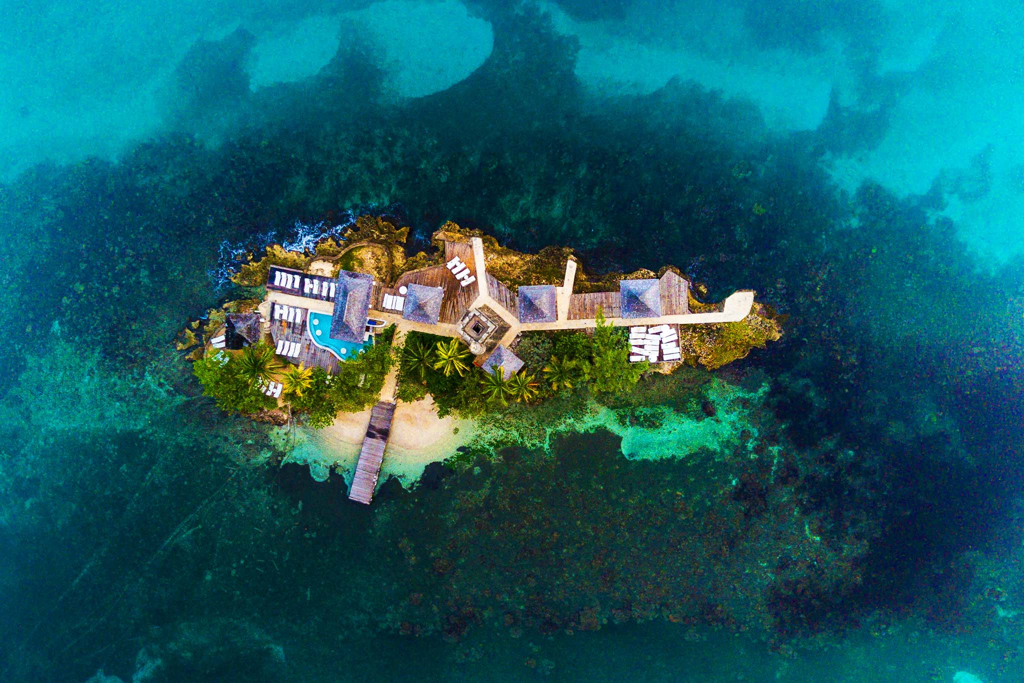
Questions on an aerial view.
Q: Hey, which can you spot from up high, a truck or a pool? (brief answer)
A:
pool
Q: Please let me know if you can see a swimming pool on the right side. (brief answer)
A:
No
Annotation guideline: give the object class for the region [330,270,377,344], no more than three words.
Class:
building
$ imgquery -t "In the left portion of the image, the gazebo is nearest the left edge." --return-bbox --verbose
[225,313,264,349]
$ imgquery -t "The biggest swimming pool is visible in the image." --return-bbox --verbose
[307,310,378,363]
